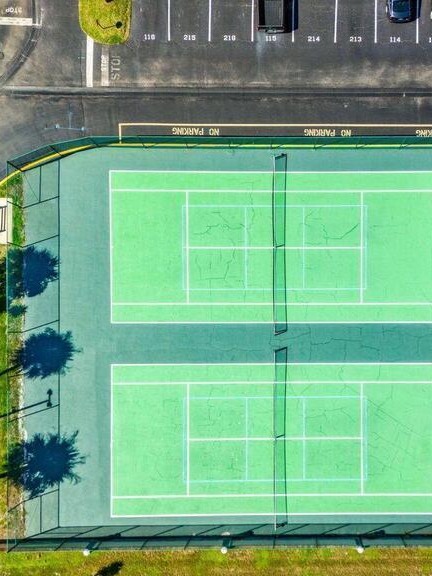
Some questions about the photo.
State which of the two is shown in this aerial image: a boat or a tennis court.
tennis court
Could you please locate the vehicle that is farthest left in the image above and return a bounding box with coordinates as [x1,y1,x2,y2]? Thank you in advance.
[259,0,286,29]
